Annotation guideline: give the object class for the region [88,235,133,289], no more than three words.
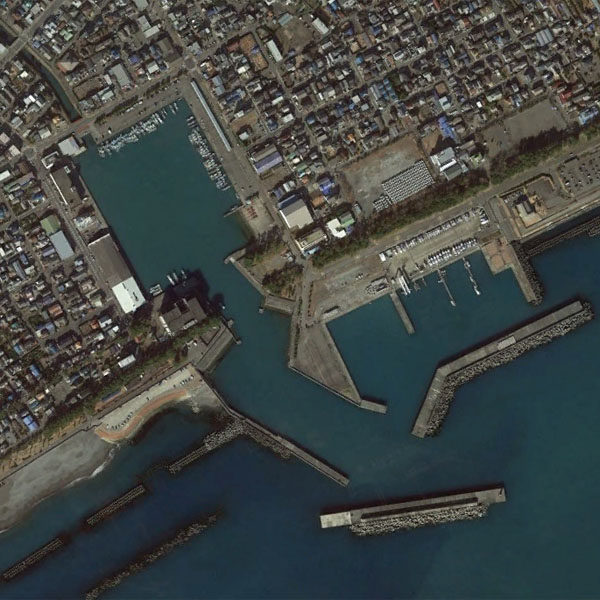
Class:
building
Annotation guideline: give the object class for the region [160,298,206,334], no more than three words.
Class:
building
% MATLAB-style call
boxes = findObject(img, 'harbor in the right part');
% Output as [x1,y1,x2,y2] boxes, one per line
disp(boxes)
[325,210,492,322]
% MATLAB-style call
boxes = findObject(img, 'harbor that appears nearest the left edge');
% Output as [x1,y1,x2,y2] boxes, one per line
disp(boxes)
[70,80,296,318]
